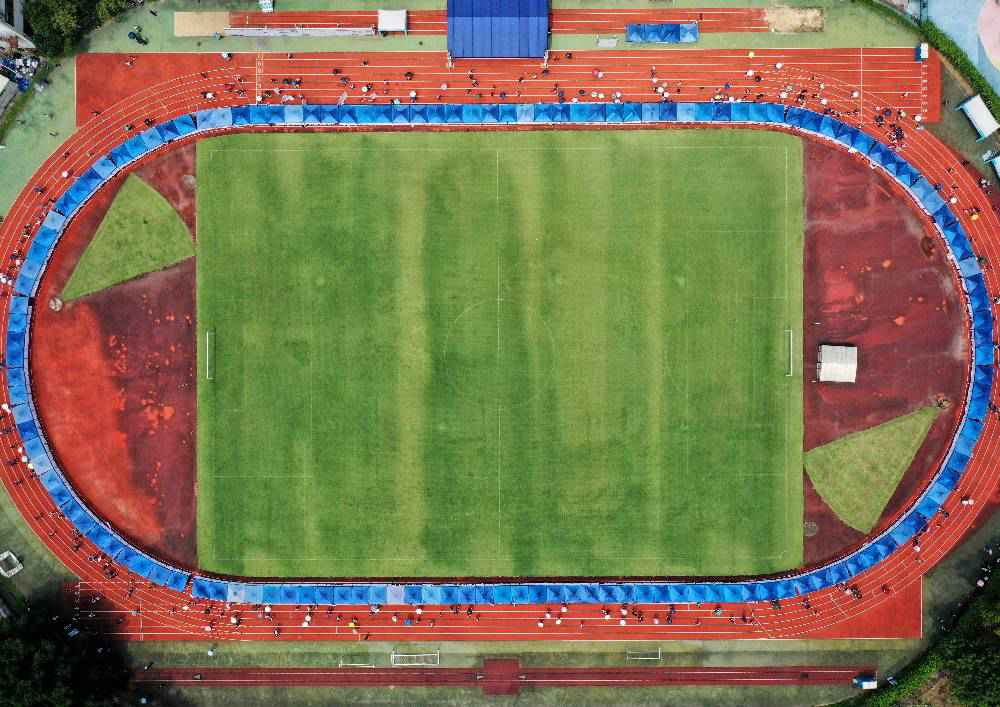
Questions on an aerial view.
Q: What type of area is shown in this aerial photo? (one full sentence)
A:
This image shows a sports ground.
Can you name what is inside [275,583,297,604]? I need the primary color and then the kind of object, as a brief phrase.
blue tent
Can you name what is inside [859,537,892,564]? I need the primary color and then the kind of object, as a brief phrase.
blue tent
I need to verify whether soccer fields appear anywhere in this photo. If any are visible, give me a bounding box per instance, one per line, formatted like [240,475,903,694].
[195,132,804,577]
